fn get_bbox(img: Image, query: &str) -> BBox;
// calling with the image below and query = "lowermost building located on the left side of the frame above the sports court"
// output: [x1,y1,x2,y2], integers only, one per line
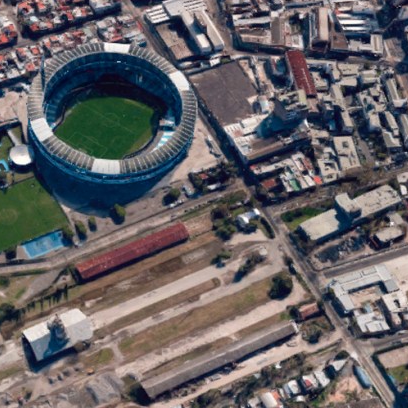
[10,147,32,167]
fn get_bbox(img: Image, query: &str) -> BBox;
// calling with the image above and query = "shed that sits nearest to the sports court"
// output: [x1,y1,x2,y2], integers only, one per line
[76,222,190,284]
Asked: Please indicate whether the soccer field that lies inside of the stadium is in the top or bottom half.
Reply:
top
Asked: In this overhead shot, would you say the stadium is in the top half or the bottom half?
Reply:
top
